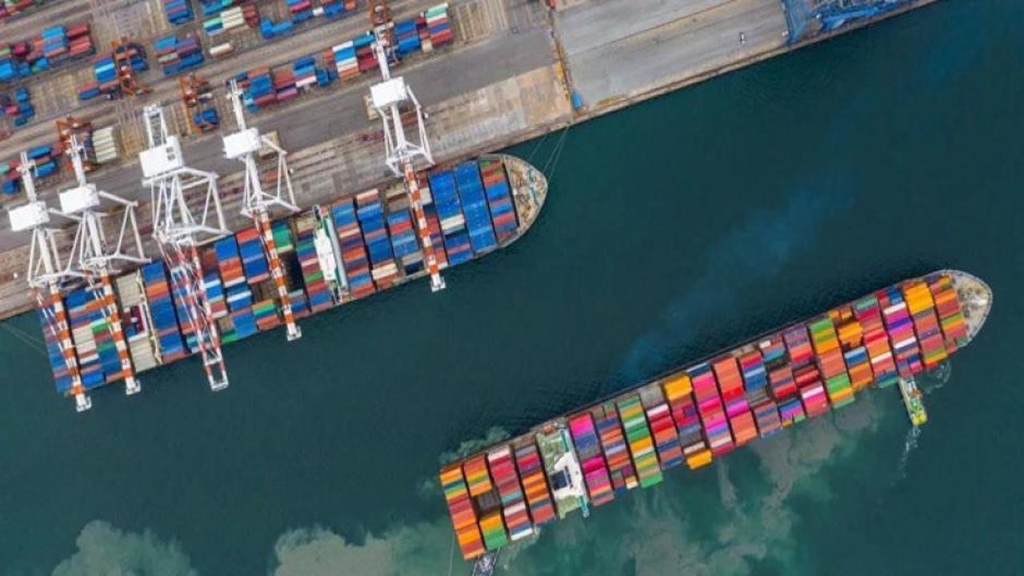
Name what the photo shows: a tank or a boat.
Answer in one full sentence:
The image shows a boat.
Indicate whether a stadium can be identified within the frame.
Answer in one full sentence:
No, no stadium is visible in the scene.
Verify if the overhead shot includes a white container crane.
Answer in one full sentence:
Yes, I can see a white container crane in this picture.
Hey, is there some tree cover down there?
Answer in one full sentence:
No, there's no tree cover in this view.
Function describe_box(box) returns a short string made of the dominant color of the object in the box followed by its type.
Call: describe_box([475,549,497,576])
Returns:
gray boat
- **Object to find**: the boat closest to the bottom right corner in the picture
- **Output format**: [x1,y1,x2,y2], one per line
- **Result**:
[898,372,927,427]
